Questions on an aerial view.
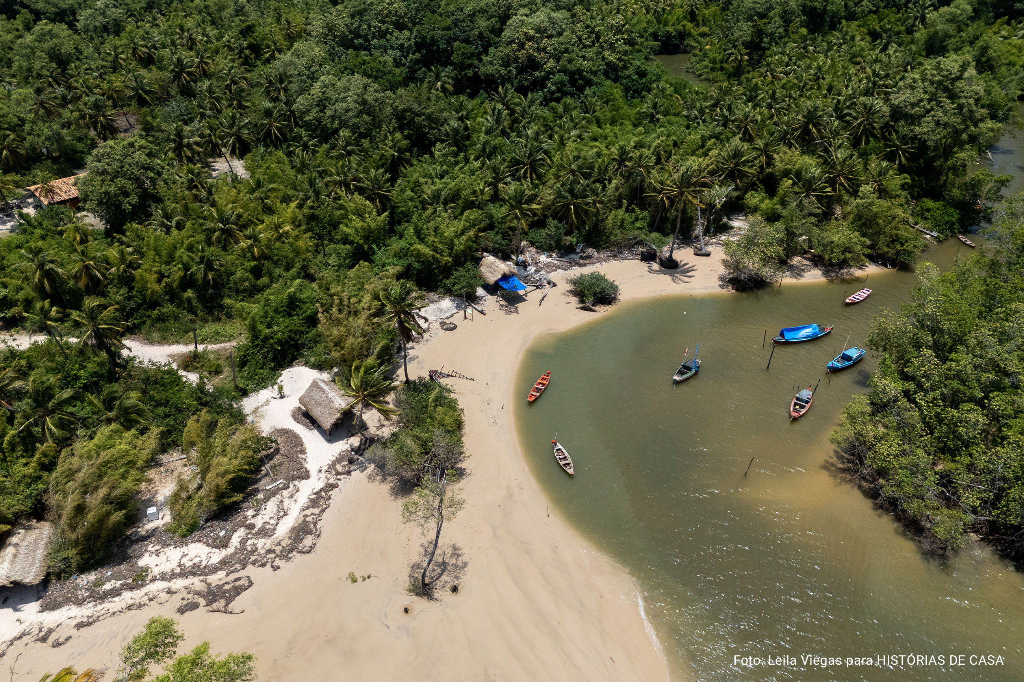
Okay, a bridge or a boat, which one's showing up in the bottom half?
boat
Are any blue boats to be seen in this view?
Yes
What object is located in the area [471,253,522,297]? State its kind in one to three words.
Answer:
shed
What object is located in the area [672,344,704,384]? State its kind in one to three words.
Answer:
boat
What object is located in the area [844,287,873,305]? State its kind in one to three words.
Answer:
boat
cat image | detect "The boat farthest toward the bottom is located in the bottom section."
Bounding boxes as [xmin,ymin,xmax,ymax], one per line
[546,425,575,479]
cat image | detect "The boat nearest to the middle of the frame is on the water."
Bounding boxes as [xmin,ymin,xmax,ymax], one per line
[527,368,551,404]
